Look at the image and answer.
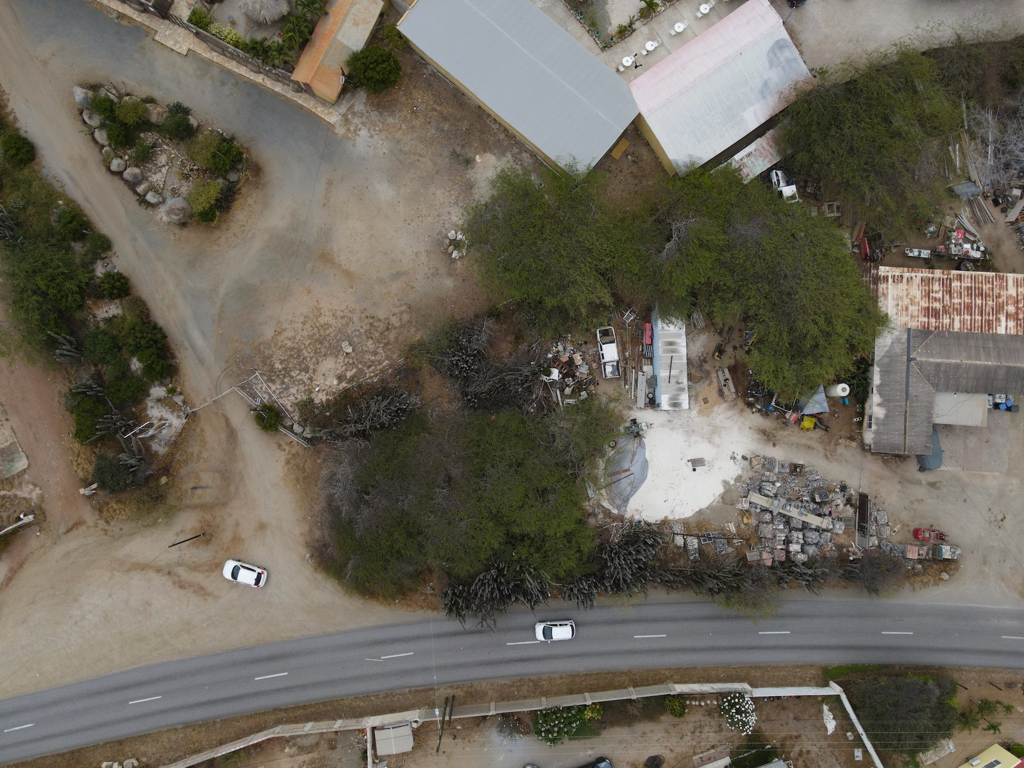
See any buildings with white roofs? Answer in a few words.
Yes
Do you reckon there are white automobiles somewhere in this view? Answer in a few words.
Yes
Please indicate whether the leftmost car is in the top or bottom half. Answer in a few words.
bottom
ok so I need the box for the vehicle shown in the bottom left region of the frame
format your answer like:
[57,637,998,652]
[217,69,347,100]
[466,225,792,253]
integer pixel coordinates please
[224,559,269,588]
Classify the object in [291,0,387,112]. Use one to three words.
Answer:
shed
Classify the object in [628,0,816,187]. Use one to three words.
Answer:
building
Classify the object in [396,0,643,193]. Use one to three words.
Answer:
warehouse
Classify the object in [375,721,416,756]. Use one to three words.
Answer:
shed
